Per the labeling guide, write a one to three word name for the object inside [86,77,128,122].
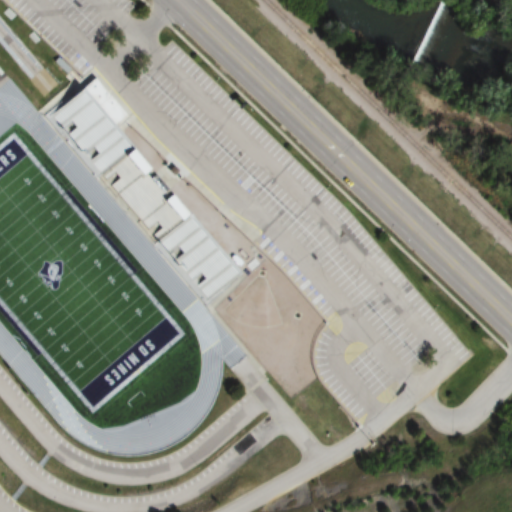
building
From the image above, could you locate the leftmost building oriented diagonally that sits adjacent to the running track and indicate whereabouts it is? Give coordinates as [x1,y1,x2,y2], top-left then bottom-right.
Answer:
[0,23,58,96]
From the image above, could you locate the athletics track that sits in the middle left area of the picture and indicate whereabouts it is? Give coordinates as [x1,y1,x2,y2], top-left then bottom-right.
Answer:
[0,76,247,457]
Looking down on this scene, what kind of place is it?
sports ground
